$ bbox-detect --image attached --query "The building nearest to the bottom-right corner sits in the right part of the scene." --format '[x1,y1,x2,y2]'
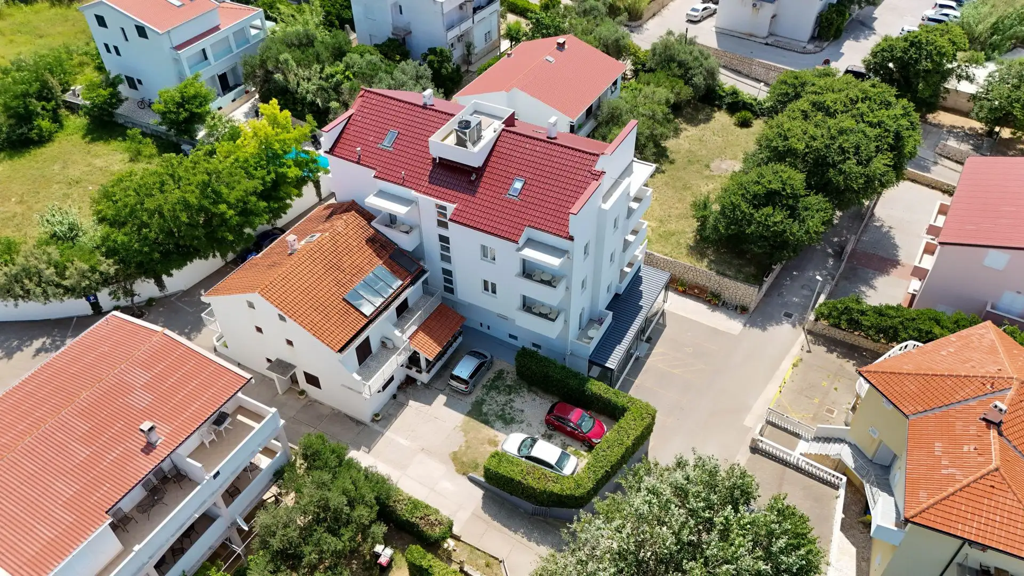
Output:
[808,319,1024,576]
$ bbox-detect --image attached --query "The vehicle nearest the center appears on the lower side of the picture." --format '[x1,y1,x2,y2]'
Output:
[442,344,498,395]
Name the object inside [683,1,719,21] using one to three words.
car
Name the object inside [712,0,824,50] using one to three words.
building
